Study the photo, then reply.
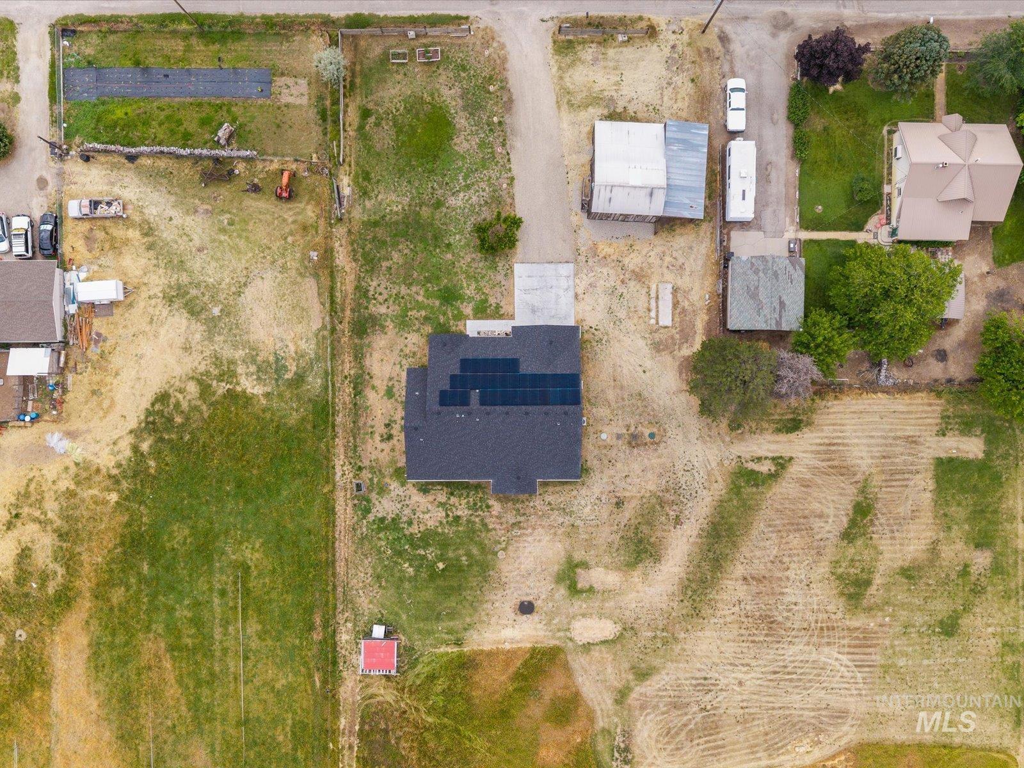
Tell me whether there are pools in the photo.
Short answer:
No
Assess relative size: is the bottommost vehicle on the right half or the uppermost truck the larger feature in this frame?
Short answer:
the vehicle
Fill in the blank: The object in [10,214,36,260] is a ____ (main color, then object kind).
white car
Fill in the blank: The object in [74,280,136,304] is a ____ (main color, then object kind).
white trailer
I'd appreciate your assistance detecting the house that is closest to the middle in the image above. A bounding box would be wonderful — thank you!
[405,326,582,494]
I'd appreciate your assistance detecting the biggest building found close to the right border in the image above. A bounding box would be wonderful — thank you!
[889,113,1023,241]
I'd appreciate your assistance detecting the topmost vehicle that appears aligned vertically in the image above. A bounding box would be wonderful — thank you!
[724,79,748,135]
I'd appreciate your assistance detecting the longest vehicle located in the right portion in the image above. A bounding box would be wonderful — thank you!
[727,136,757,224]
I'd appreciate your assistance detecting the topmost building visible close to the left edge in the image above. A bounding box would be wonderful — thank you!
[0,259,71,343]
